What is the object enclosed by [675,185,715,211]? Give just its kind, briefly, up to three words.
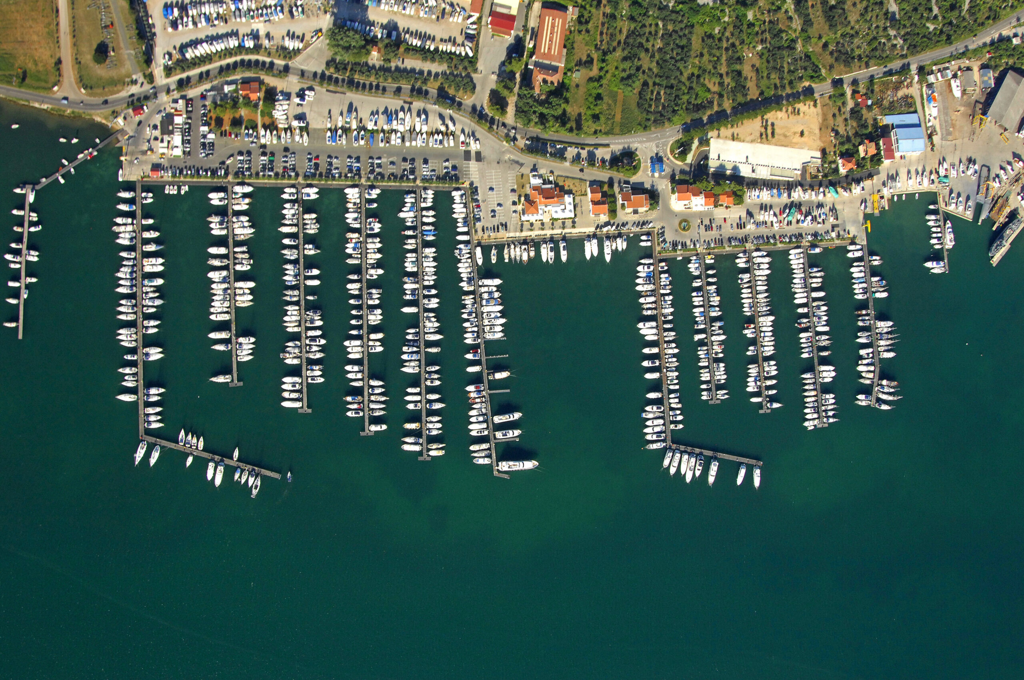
house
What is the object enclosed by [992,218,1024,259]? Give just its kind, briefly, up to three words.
ship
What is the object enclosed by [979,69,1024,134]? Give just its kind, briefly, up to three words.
building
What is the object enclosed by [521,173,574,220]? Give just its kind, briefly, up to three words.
building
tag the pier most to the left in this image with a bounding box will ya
[18,185,32,339]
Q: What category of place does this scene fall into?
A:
port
